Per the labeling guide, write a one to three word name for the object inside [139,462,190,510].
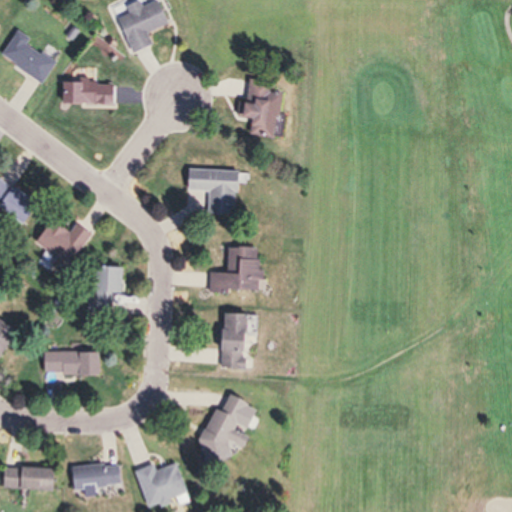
house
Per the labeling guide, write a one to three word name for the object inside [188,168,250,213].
house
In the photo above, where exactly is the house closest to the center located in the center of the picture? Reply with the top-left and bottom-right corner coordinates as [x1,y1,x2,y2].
[209,248,265,292]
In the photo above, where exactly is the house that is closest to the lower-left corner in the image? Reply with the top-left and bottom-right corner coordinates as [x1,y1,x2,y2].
[4,468,54,491]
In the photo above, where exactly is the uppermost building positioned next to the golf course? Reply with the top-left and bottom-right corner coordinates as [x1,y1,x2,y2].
[244,78,286,138]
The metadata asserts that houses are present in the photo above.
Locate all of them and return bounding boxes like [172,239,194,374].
[244,78,286,138]
[139,462,190,510]
[44,352,101,376]
[117,0,168,51]
[196,395,259,460]
[4,468,54,491]
[188,168,250,213]
[209,248,265,292]
[37,223,90,253]
[0,176,34,218]
[96,265,124,298]
[222,313,247,369]
[2,30,55,82]
[62,67,112,104]
[72,465,122,497]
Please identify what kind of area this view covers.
golf course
